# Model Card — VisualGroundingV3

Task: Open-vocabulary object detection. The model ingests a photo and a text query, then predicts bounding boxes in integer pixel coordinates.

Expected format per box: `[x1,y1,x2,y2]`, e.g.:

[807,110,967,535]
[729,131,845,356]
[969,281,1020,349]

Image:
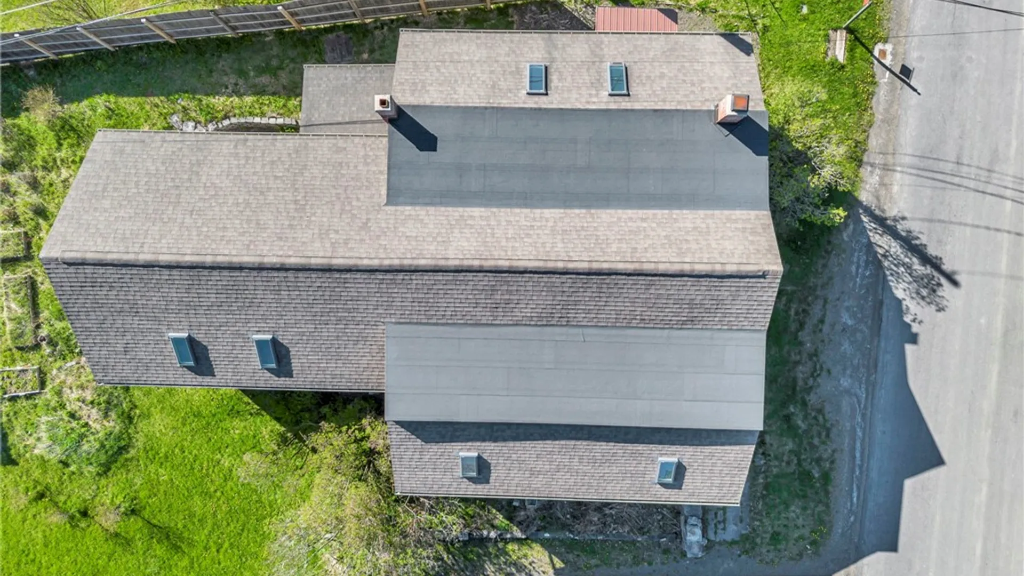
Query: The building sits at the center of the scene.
[39,27,782,508]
